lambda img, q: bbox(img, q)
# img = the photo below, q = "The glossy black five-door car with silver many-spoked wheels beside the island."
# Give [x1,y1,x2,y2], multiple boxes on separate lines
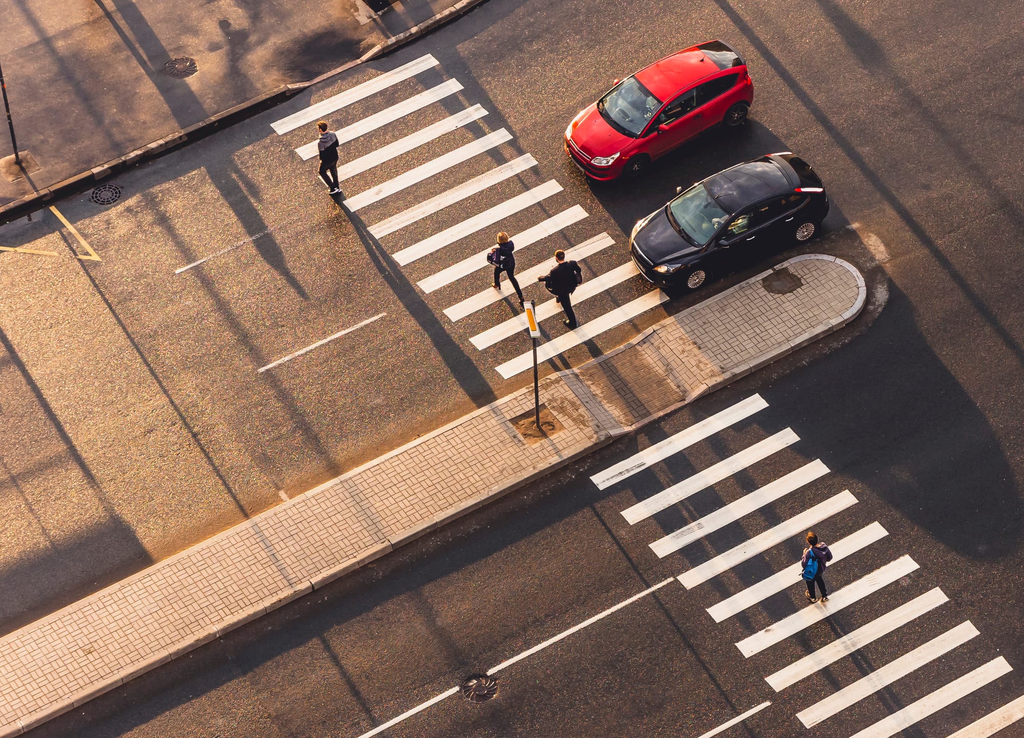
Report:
[621,155,832,293]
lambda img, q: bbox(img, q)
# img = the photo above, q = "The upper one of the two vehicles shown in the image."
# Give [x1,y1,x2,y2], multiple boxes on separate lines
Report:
[563,42,759,177]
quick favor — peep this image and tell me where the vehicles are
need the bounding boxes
[563,42,759,177]
[621,155,832,293]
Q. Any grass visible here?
No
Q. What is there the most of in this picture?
paved ground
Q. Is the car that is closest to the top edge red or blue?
red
